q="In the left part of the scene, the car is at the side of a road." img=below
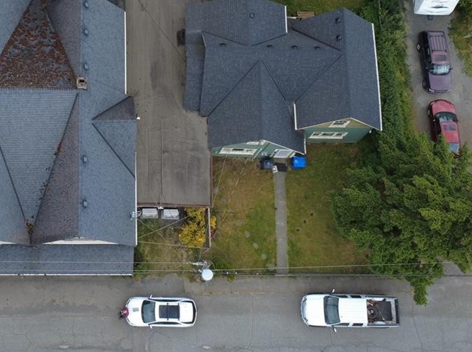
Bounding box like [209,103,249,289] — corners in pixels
[124,294,197,332]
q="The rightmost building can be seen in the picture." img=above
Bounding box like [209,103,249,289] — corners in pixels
[185,0,384,166]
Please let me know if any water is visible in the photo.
No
